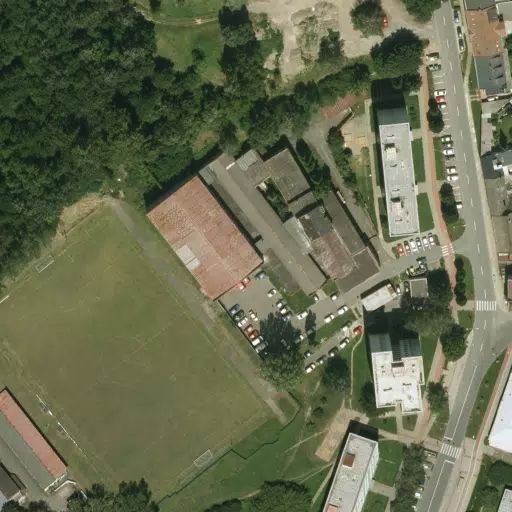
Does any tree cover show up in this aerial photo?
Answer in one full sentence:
Yes, there's tree cover in this view.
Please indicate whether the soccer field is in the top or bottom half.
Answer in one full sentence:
Seen from above, the soccer field lies in the bottom half of the view.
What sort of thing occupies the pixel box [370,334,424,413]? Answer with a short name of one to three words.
building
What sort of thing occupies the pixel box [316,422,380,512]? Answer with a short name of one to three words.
building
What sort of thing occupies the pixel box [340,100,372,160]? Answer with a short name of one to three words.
playground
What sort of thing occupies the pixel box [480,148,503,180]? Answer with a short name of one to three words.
house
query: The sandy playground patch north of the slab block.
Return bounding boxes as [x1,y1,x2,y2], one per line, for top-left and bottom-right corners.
[314,406,368,462]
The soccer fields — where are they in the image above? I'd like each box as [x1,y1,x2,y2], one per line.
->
[0,210,270,512]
